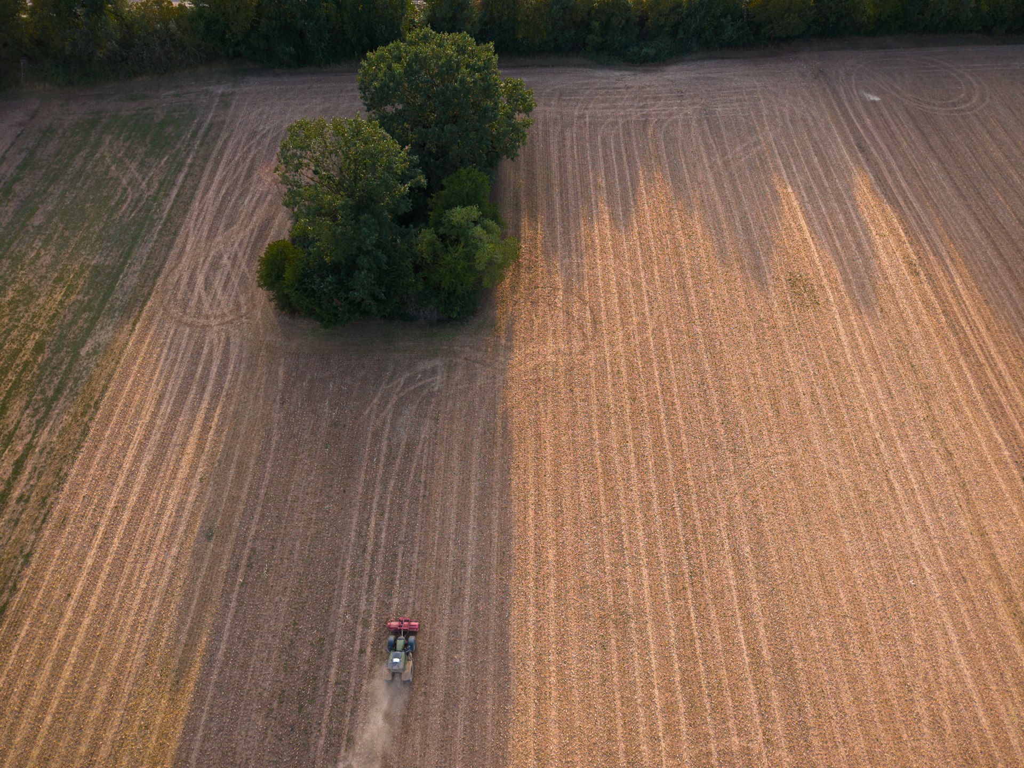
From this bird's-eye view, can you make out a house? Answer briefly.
No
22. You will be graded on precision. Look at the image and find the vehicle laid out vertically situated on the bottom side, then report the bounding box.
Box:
[379,615,417,685]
